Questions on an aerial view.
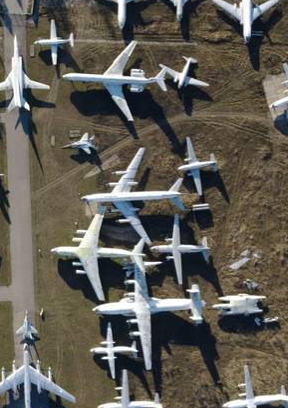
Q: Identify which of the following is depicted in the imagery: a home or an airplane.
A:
airplane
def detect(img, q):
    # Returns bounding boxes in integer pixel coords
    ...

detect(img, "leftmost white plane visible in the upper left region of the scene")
[0,33,50,109]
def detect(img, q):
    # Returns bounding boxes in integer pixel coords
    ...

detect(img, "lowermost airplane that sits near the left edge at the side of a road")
[0,344,76,408]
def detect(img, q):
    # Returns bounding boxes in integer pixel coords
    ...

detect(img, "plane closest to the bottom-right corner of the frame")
[222,364,288,408]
